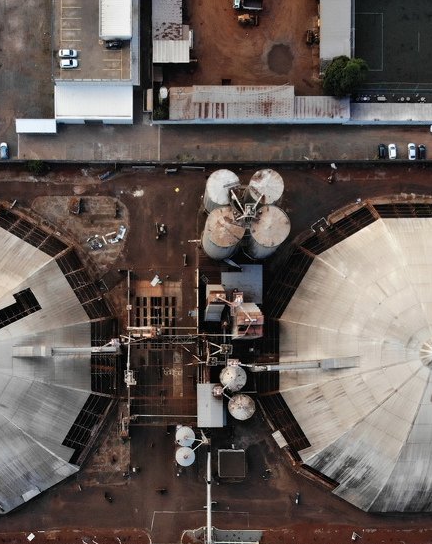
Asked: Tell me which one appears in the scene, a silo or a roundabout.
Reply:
silo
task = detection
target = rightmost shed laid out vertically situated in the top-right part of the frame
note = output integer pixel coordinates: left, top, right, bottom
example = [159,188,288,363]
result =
[317,0,351,81]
